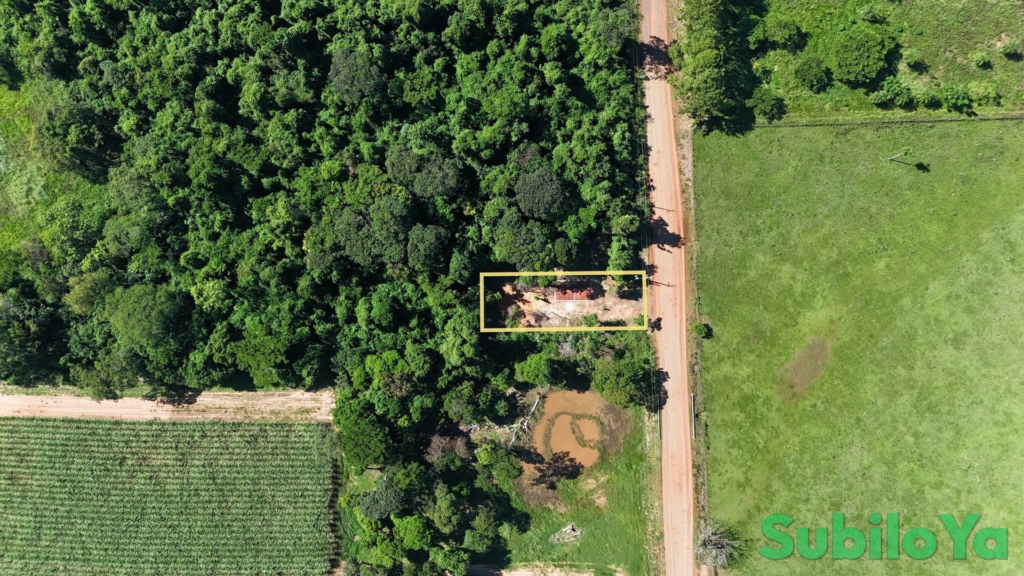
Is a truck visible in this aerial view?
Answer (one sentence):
No, there's no truck here.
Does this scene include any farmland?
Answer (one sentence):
Yes, the picture does contain farmland.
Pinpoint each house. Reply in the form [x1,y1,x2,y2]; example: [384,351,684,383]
[555,281,594,303]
